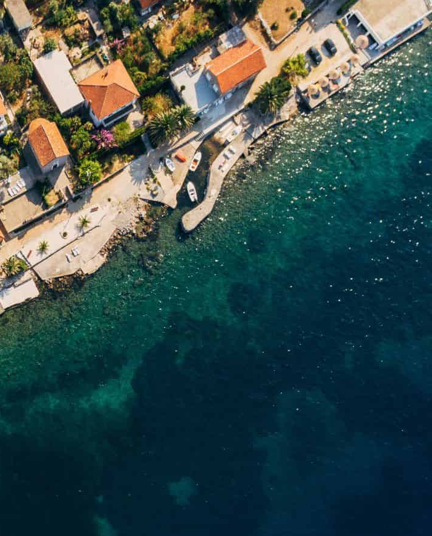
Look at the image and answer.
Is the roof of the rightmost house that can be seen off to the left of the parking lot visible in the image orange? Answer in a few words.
Yes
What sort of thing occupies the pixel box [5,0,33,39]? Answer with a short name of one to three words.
shed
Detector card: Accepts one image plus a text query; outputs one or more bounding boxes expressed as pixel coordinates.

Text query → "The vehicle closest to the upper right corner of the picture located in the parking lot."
[321,39,337,58]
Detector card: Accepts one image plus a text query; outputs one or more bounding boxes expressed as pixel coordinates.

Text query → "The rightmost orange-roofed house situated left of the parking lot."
[203,26,266,101]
